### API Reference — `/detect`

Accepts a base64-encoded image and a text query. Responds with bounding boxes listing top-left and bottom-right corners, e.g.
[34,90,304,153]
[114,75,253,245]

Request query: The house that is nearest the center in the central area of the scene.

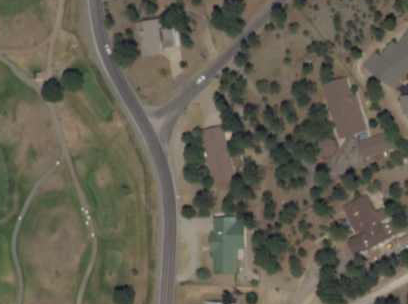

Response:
[202,126,234,189]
